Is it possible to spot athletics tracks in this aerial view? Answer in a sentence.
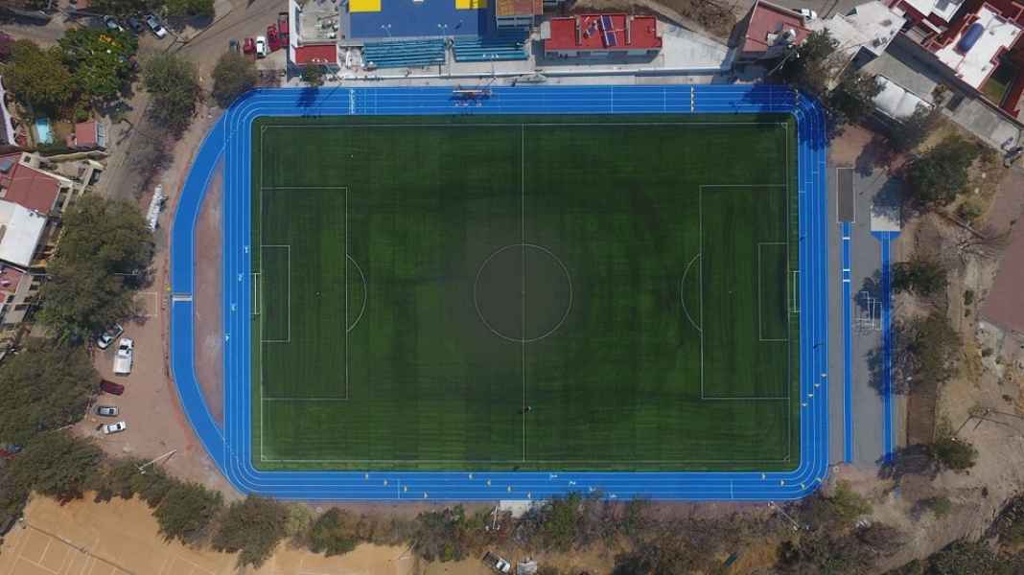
Yes, you can see an athletics track in this photo.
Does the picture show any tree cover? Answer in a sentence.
Yes, some tree cover is visible.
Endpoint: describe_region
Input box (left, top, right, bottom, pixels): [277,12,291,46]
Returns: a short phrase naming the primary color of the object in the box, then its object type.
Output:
red vehicle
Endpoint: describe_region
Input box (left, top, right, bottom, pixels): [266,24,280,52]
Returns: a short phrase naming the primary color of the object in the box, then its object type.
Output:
red vehicle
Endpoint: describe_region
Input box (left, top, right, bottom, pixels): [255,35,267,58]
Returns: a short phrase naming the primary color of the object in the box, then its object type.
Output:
white vehicle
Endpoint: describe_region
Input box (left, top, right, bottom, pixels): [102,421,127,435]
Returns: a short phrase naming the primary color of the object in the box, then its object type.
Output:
white car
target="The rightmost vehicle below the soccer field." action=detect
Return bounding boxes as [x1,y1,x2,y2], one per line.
[481,551,513,574]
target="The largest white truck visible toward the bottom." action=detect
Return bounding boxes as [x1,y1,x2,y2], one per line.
[108,337,132,376]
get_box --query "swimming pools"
[34,115,53,145]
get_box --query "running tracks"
[171,83,831,501]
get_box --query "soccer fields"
[251,112,801,472]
